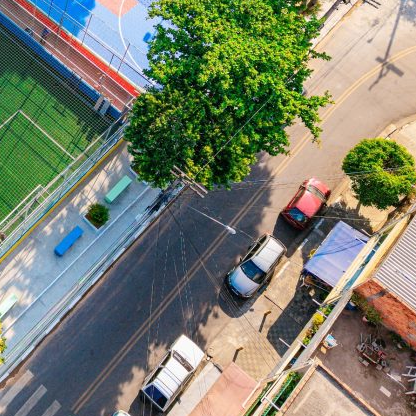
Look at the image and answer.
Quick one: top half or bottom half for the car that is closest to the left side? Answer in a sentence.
The car that is closest to the left side is in the bottom half of the image.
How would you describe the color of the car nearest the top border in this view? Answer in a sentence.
The car nearest the top border is red.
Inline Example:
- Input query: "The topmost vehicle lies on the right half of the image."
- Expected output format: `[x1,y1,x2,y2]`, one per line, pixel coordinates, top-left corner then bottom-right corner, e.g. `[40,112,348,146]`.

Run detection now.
[285,175,339,234]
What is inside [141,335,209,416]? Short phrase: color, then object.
white car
